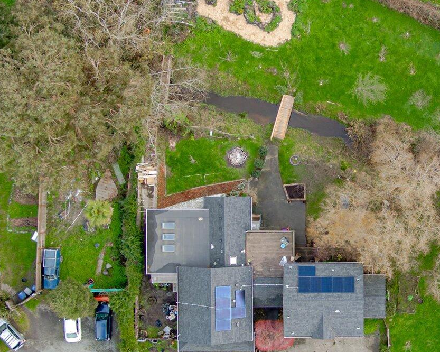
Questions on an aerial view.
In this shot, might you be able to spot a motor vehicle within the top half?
No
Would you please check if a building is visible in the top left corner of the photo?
No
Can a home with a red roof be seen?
No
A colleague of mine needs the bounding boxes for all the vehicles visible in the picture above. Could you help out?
[64,315,83,343]
[38,248,61,290]
[0,314,27,352]
[92,301,114,343]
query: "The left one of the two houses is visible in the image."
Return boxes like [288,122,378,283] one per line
[146,196,283,352]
